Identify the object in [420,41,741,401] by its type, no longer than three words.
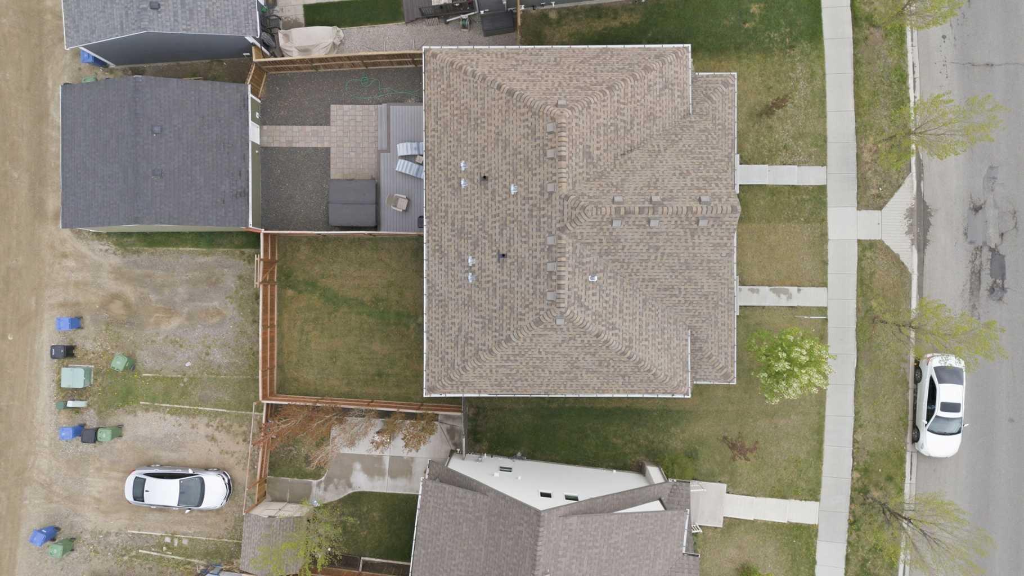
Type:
house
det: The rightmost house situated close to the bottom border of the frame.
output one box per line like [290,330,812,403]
[407,452,705,576]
